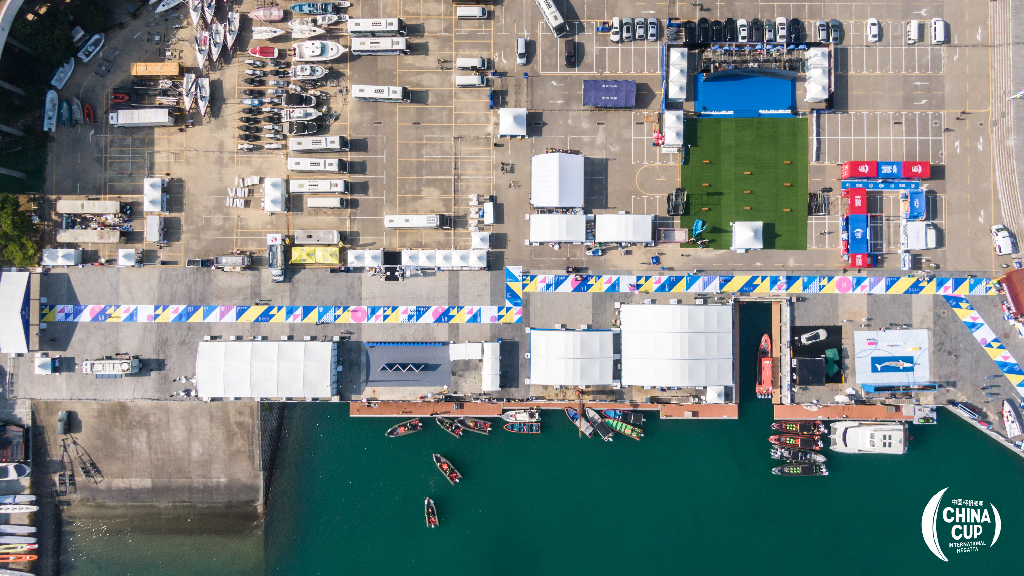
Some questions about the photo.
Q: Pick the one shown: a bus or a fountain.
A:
bus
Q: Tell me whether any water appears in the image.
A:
Yes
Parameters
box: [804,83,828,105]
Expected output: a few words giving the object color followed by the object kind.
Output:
white tent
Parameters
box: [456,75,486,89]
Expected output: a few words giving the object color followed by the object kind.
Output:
white vehicle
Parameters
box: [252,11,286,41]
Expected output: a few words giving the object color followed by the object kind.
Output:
white boat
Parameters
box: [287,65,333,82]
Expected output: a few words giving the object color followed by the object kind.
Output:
white boat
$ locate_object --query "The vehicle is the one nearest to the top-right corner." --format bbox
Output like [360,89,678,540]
[928,20,944,46]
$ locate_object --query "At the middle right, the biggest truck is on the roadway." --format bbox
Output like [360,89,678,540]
[893,220,931,249]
